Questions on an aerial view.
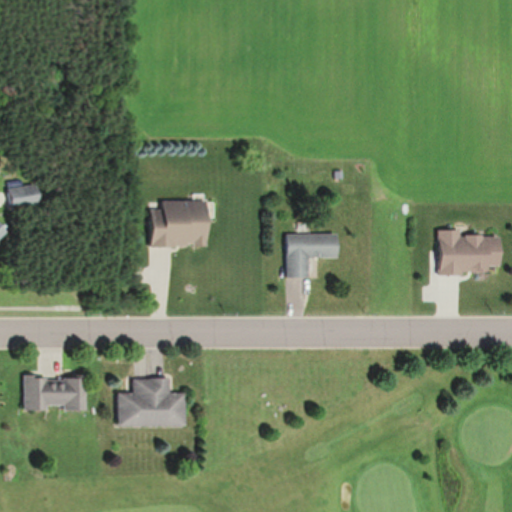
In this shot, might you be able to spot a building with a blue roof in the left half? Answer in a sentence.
No, I see no building with a blue roof in the left half.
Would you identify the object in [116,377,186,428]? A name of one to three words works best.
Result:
house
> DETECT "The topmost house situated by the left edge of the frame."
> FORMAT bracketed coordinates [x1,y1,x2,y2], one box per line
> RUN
[5,180,42,206]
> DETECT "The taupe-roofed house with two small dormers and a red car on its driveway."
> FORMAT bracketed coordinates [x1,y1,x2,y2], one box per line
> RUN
[22,375,88,412]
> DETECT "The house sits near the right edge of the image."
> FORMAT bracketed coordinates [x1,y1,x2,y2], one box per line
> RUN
[436,230,504,276]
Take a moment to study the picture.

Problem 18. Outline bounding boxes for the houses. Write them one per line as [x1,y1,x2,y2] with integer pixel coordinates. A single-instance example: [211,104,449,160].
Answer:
[284,234,341,278]
[22,375,88,412]
[436,230,504,276]
[5,180,42,206]
[116,377,186,428]
[148,200,211,248]
[0,216,10,242]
